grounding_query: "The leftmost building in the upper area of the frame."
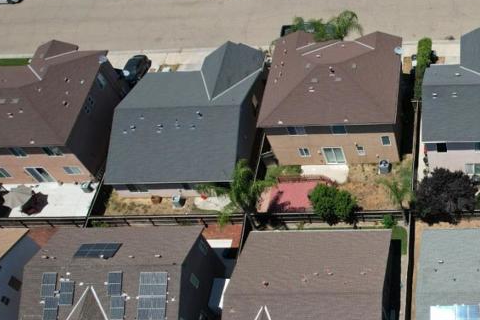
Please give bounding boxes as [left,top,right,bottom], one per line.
[0,36,128,179]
